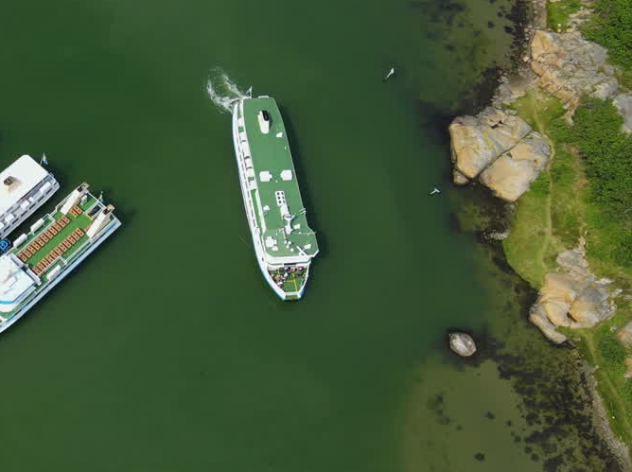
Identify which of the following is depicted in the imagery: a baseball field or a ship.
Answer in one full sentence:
Of the two, only a ship appears.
